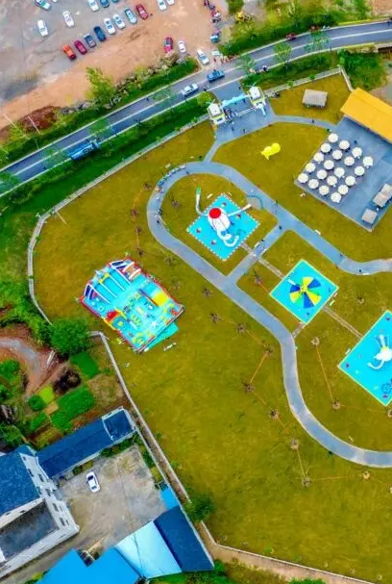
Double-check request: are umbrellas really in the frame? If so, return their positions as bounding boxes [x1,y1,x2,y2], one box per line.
[352,147,364,159]
[335,168,346,181]
[329,133,340,146]
[355,167,367,179]
[340,140,350,153]
[322,143,333,155]
[331,193,342,205]
[324,160,335,172]
[307,164,317,175]
[338,185,349,197]
[345,156,355,169]
[320,186,331,198]
[364,156,375,170]
[315,152,325,165]
[299,174,310,186]
[328,176,339,189]
[346,176,357,189]
[309,180,320,191]
[333,150,344,161]
[318,170,328,182]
